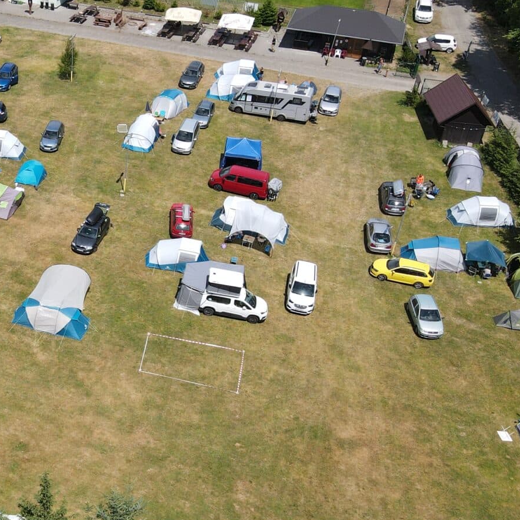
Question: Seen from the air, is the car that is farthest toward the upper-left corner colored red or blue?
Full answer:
The color of the car that is farthest toward the upper-left corner is blue.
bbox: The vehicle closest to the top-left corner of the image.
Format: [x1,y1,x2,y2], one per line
[0,63,23,89]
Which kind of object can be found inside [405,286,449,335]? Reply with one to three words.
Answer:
car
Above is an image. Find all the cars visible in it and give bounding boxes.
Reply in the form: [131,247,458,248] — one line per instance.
[40,118,68,148]
[199,269,270,325]
[179,61,204,86]
[356,215,394,250]
[166,200,194,235]
[0,63,23,89]
[284,254,320,311]
[417,33,459,53]
[72,196,111,251]
[374,176,408,213]
[319,85,344,113]
[171,116,196,151]
[366,254,442,289]
[193,96,220,125]
[409,0,434,20]
[0,99,9,122]
[405,286,449,335]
